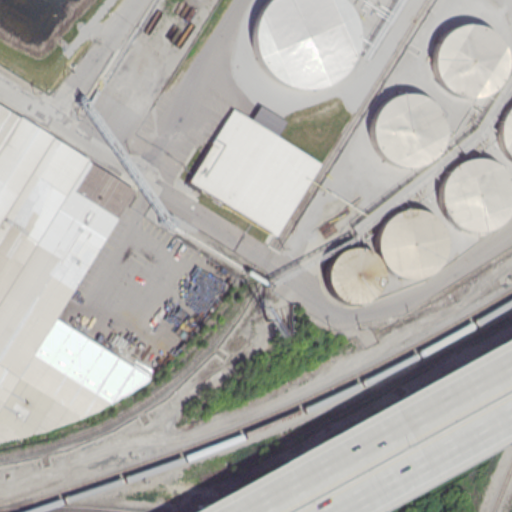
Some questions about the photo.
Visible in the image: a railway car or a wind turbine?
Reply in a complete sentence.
The one in the frame is a railway car.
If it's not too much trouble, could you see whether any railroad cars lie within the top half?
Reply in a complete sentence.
No, I can find no railroad car within the top half.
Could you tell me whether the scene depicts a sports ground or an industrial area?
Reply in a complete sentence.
The picture captures an industrial area.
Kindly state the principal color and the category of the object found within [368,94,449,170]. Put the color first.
white storage tank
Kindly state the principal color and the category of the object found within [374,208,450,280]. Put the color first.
white storage tank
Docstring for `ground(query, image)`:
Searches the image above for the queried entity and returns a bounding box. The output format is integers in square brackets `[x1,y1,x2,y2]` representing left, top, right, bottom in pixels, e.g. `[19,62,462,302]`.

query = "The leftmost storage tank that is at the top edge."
[252,0,364,92]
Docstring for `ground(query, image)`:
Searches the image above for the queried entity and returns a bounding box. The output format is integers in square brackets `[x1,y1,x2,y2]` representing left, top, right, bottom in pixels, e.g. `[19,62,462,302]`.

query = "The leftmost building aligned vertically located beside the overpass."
[0,104,154,444]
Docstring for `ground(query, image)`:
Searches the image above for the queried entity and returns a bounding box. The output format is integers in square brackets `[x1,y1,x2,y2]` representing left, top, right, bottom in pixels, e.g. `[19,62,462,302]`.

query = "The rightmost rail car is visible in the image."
[472,298,512,329]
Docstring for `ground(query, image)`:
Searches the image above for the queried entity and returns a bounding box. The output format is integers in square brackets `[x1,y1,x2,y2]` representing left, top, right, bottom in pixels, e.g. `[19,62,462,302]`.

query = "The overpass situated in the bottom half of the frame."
[198,338,512,512]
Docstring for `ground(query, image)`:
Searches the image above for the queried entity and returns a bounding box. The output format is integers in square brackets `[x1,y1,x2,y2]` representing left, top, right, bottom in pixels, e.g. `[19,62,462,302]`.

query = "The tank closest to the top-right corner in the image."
[432,24,512,101]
